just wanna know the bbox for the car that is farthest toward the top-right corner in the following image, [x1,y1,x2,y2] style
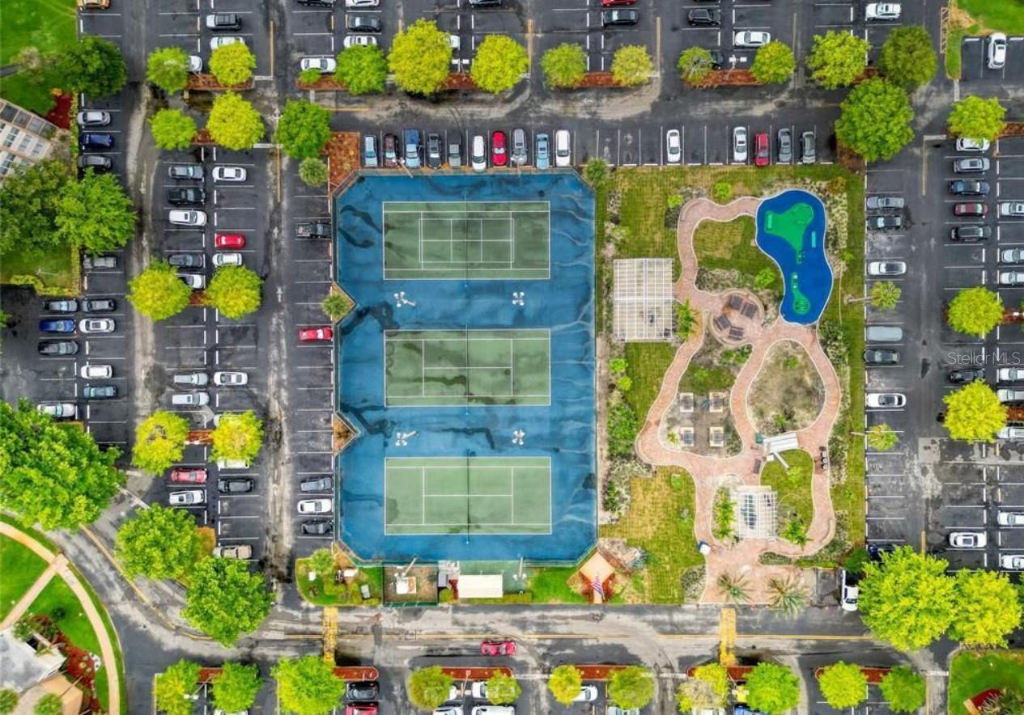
[987,34,1006,69]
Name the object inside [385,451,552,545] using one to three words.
tennis court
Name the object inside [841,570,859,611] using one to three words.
vehicle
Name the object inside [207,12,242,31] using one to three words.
car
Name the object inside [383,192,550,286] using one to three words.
tennis court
